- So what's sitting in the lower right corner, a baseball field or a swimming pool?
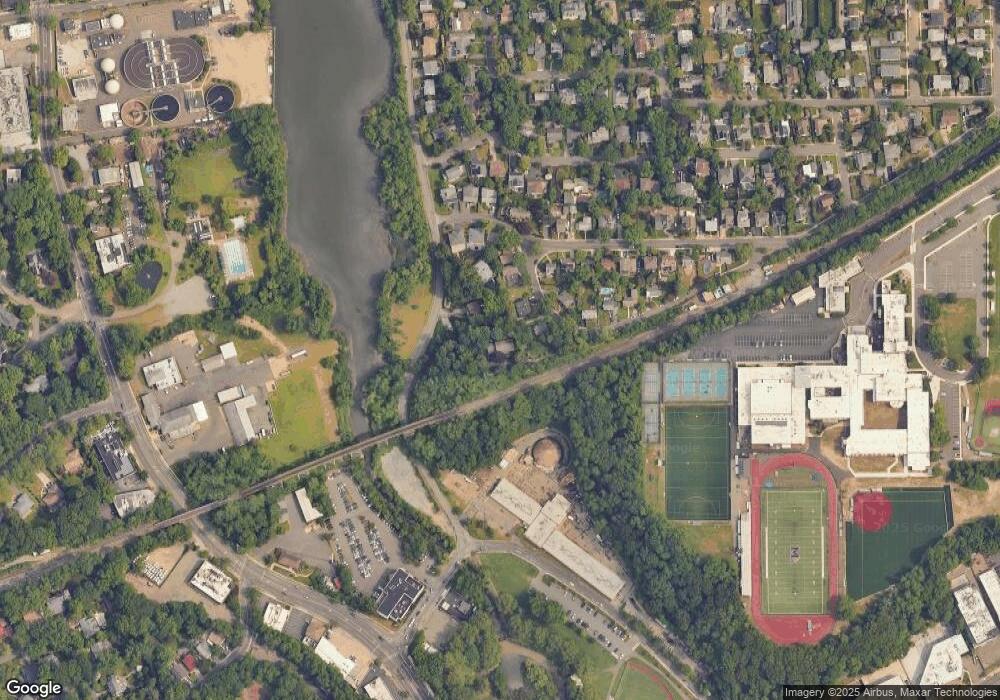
baseball field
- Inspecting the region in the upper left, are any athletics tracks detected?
No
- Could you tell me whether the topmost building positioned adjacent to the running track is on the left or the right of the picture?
right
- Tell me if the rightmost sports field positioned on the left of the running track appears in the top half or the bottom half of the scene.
bottom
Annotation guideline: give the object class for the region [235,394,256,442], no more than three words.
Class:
shed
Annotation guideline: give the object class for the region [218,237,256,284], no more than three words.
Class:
swimming pool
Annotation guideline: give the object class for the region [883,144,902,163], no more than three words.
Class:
house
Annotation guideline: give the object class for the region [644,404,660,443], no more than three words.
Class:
basketball court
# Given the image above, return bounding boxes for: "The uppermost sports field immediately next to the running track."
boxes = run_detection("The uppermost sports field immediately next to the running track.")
[665,405,731,519]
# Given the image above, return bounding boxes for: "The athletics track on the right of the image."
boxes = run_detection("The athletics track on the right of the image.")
[752,453,837,643]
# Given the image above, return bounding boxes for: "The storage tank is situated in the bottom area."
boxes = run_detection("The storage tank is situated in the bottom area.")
[532,440,562,472]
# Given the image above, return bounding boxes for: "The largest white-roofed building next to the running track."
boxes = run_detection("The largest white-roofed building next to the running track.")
[738,280,930,473]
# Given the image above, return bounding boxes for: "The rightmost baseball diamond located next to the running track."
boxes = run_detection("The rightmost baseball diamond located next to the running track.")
[846,485,954,602]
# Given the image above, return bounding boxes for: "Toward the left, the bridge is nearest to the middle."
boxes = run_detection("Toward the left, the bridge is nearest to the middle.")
[233,413,432,500]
